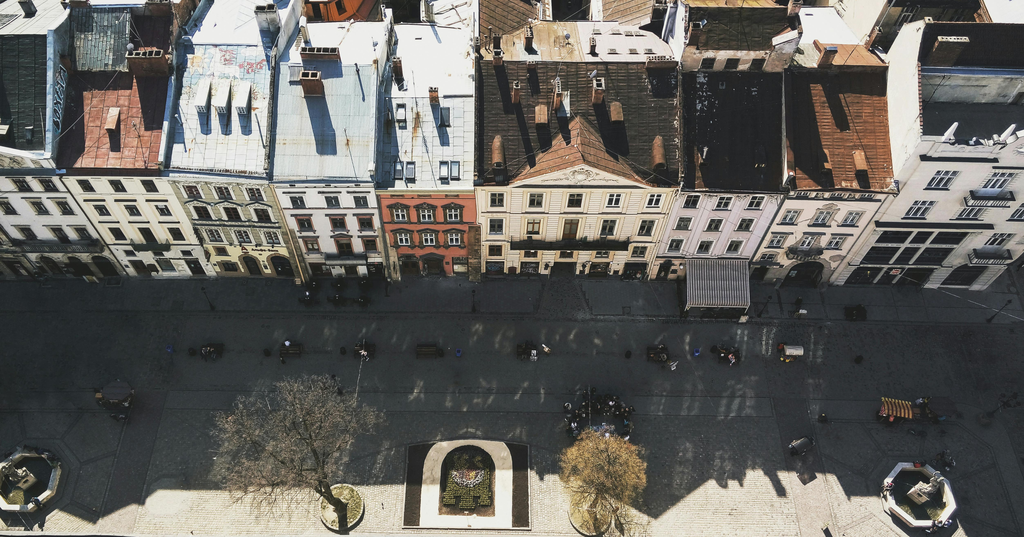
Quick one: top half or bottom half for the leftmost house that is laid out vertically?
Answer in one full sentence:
It is in the top half that the leftmost house that is laid out vertically appears.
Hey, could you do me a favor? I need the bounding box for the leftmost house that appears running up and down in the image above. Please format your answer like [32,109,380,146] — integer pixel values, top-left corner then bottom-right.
[0,0,129,279]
